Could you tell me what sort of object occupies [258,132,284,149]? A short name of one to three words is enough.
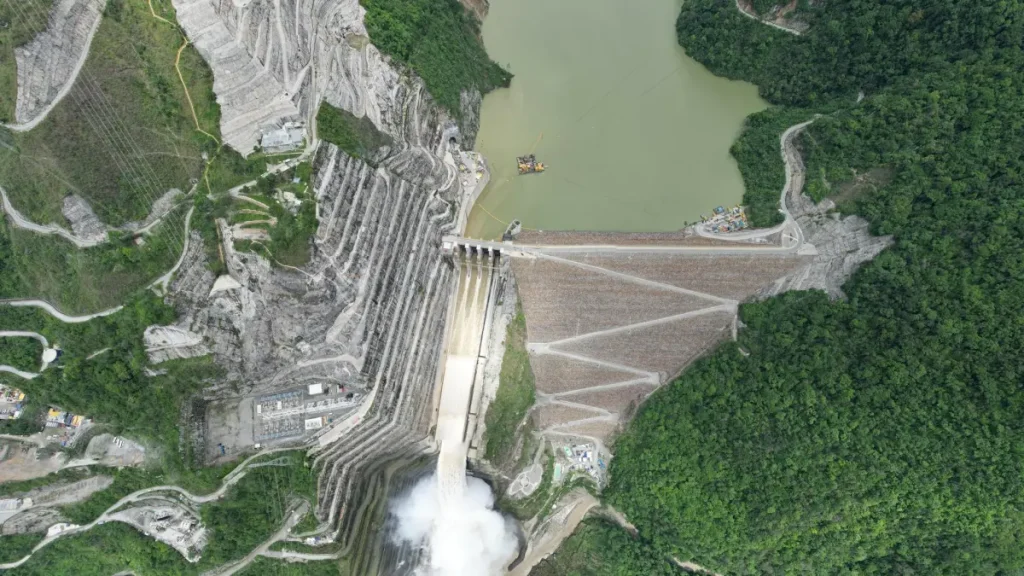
building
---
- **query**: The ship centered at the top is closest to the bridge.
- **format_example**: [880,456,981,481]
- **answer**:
[516,136,546,173]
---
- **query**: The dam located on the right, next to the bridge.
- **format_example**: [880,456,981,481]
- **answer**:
[504,238,803,442]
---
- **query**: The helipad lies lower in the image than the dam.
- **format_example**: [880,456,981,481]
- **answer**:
[509,463,544,495]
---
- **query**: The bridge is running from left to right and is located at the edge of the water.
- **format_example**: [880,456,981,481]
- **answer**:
[441,237,514,253]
